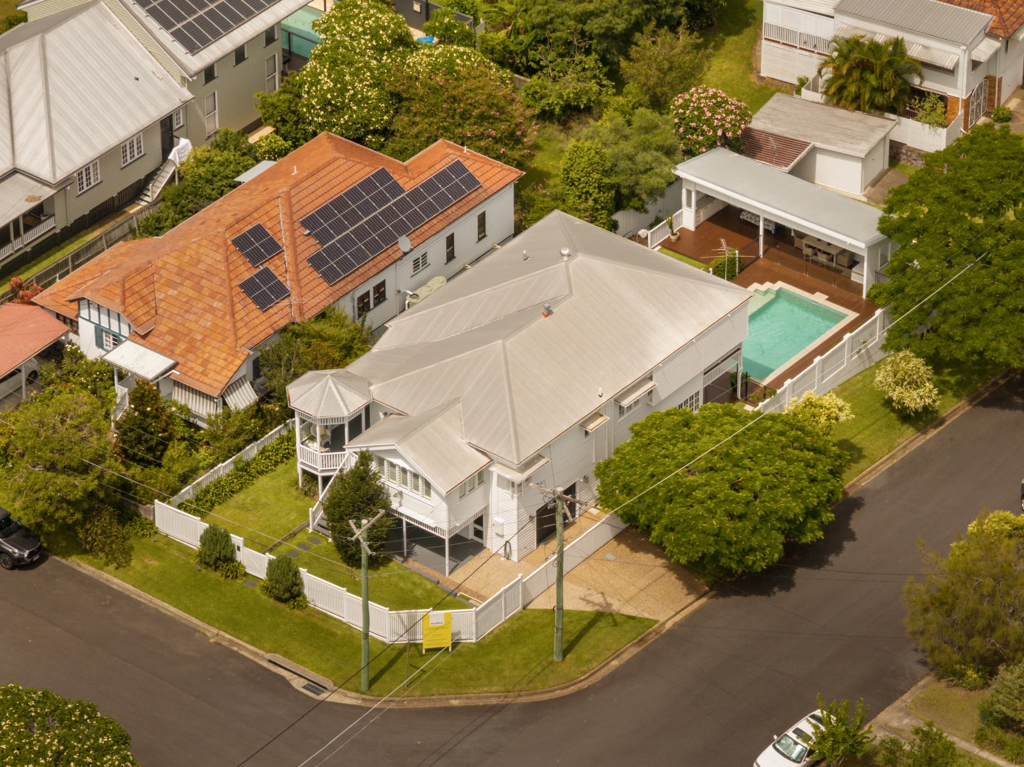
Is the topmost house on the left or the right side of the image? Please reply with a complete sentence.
The topmost house sits on the right side.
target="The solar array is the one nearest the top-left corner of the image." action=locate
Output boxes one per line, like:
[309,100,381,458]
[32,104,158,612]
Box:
[128,0,265,48]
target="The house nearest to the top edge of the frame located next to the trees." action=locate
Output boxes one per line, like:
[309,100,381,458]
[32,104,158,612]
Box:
[752,0,1024,132]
